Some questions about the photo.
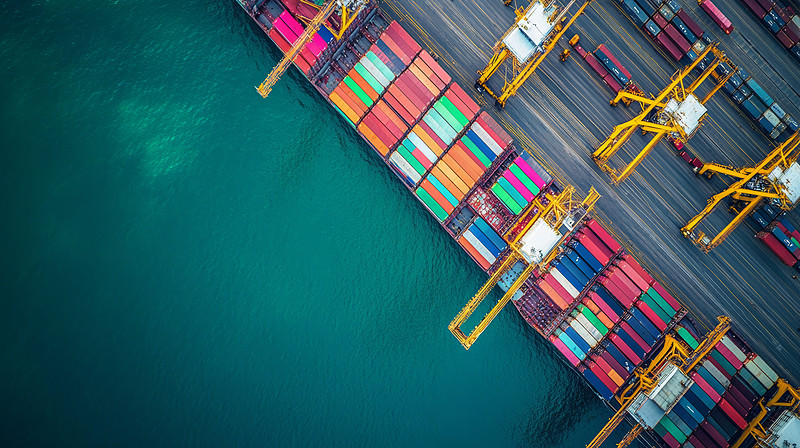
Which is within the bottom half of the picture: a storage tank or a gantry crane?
gantry crane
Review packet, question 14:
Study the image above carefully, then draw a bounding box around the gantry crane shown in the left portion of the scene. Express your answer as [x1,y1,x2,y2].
[253,0,379,100]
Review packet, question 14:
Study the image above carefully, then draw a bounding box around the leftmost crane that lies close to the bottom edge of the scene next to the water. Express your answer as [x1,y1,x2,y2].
[585,314,733,448]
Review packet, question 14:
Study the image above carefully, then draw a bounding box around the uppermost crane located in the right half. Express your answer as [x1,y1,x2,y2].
[472,0,592,109]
